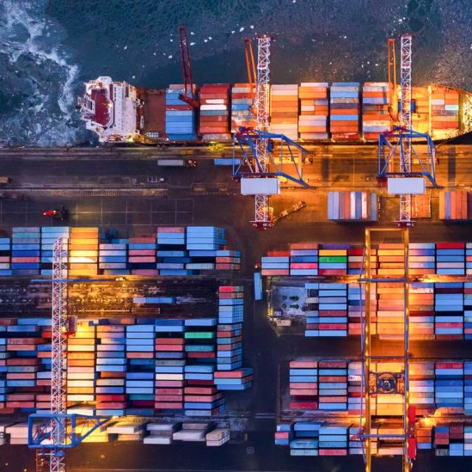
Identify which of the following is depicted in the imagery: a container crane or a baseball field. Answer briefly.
container crane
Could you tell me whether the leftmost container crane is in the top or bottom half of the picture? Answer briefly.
bottom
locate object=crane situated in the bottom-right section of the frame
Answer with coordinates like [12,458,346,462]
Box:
[356,228,424,472]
